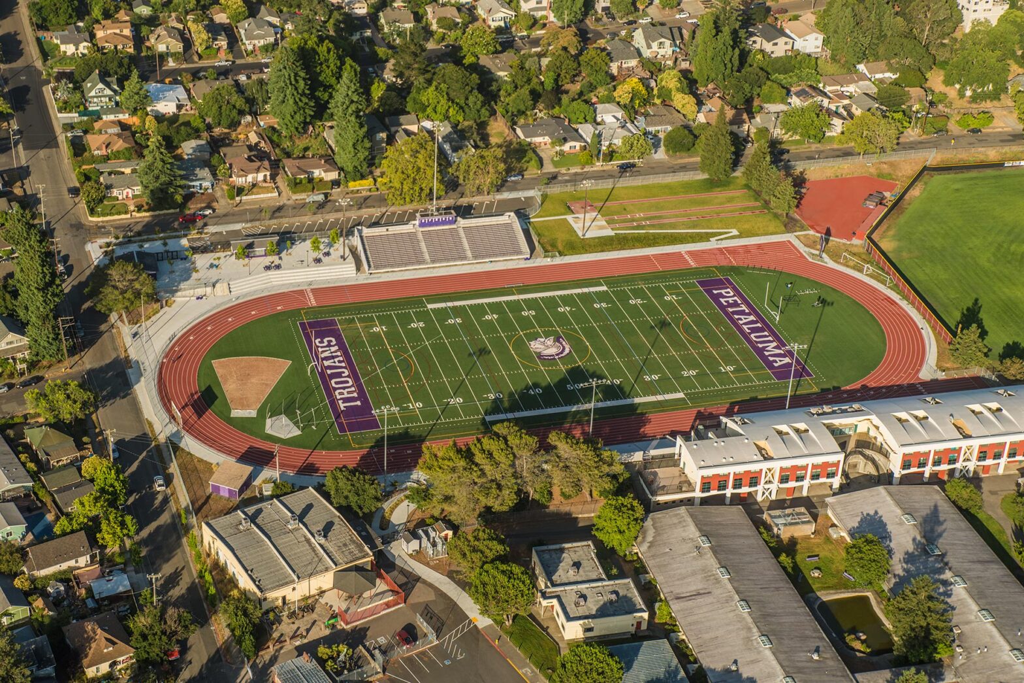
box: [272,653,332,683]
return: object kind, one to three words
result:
building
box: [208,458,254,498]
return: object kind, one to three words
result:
shed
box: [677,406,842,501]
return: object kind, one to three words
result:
building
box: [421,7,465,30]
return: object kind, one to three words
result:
house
